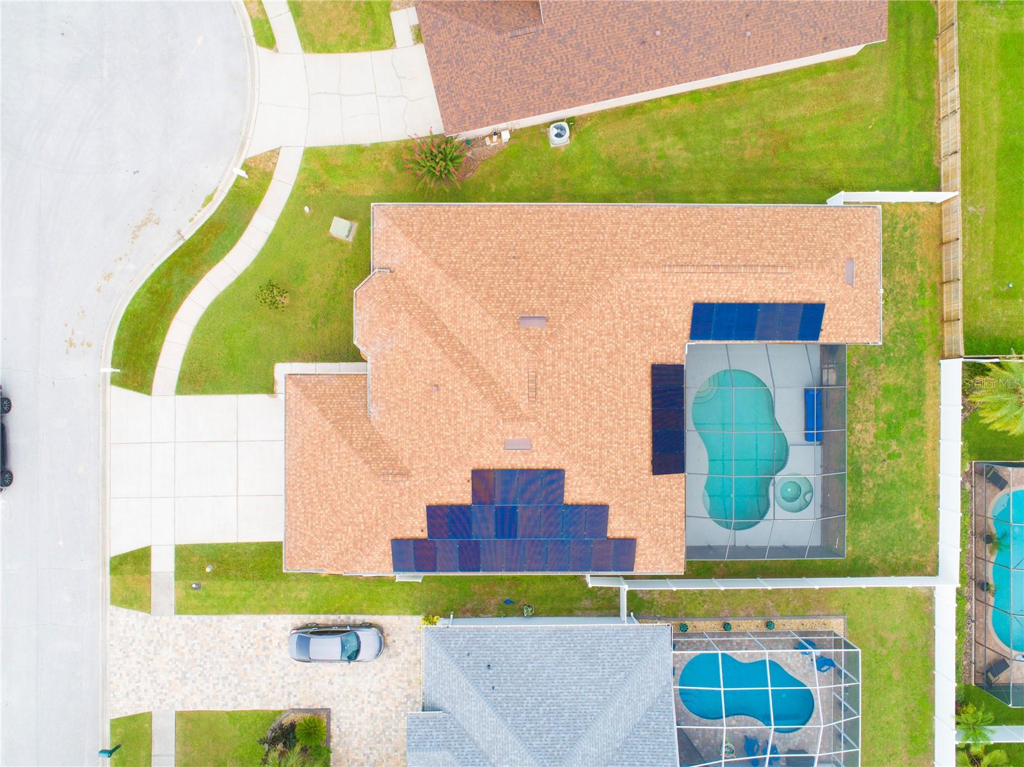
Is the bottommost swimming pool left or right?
right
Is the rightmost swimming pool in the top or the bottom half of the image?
bottom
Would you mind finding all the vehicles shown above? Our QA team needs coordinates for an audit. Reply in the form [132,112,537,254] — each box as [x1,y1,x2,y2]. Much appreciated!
[0,387,12,499]
[288,624,384,669]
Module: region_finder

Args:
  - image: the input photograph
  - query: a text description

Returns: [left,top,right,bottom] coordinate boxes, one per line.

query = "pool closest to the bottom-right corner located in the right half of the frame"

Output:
[987,483,1024,656]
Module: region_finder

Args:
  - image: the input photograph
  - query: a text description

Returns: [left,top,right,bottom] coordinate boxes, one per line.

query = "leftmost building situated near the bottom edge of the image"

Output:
[405,611,680,767]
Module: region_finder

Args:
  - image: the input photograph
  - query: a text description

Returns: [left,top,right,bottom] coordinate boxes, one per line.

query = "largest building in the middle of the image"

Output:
[282,202,884,576]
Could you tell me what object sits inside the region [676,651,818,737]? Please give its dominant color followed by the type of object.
blue swimming pool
